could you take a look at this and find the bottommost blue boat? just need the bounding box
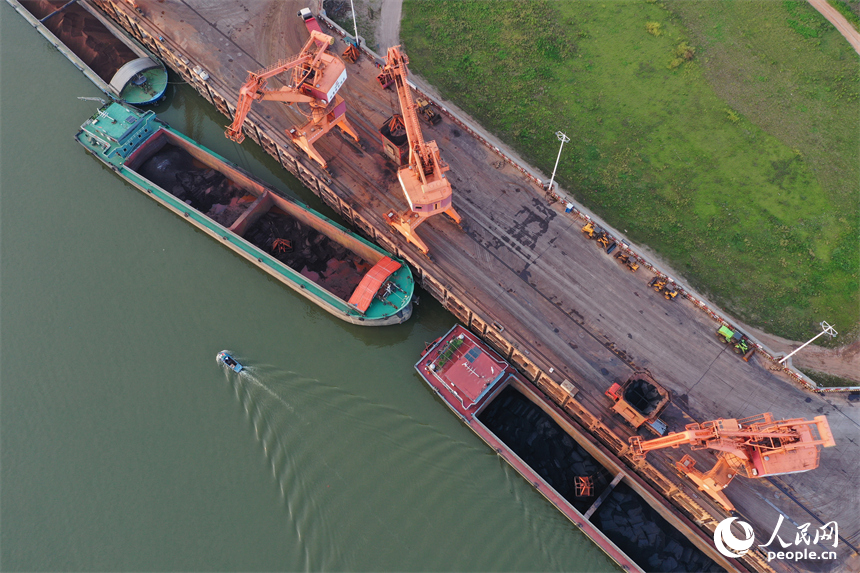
[220,350,245,375]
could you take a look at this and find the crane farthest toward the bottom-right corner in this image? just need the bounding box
[585,418,842,523]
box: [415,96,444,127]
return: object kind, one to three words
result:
work vehicle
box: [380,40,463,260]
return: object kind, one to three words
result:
crane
